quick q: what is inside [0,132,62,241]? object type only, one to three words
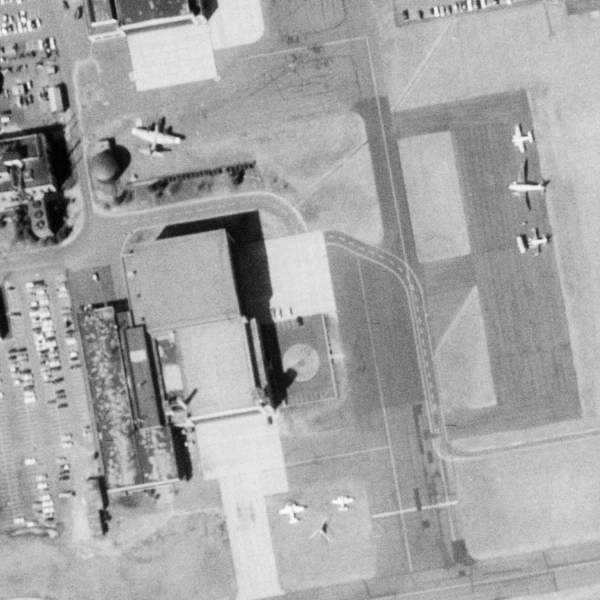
building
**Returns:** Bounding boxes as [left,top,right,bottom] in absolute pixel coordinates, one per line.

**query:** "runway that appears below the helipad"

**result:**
[258,541,600,600]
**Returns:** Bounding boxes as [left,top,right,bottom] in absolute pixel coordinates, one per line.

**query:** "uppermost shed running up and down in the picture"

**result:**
[49,87,66,115]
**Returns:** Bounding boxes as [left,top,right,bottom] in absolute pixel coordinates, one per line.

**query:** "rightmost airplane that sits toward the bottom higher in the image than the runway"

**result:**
[332,495,353,510]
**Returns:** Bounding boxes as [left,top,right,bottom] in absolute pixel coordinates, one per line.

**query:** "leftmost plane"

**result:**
[131,122,182,156]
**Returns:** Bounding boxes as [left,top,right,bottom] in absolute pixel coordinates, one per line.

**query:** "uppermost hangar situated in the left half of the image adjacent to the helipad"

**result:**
[122,228,252,338]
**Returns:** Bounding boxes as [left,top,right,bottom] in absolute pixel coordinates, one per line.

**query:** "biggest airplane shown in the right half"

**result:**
[507,161,543,213]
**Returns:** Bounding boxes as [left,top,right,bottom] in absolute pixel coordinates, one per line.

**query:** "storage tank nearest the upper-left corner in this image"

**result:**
[90,149,130,188]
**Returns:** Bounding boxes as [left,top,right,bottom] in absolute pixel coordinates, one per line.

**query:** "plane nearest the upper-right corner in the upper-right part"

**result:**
[512,125,531,152]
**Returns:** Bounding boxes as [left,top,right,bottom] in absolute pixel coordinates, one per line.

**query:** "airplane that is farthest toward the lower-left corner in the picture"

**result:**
[278,503,304,522]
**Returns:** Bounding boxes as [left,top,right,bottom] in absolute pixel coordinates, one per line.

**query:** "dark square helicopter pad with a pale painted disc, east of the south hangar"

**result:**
[262,316,338,407]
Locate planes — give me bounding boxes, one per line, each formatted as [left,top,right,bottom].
[526,229,544,255]
[278,503,304,522]
[332,495,353,510]
[512,125,531,152]
[131,122,182,156]
[507,161,543,213]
